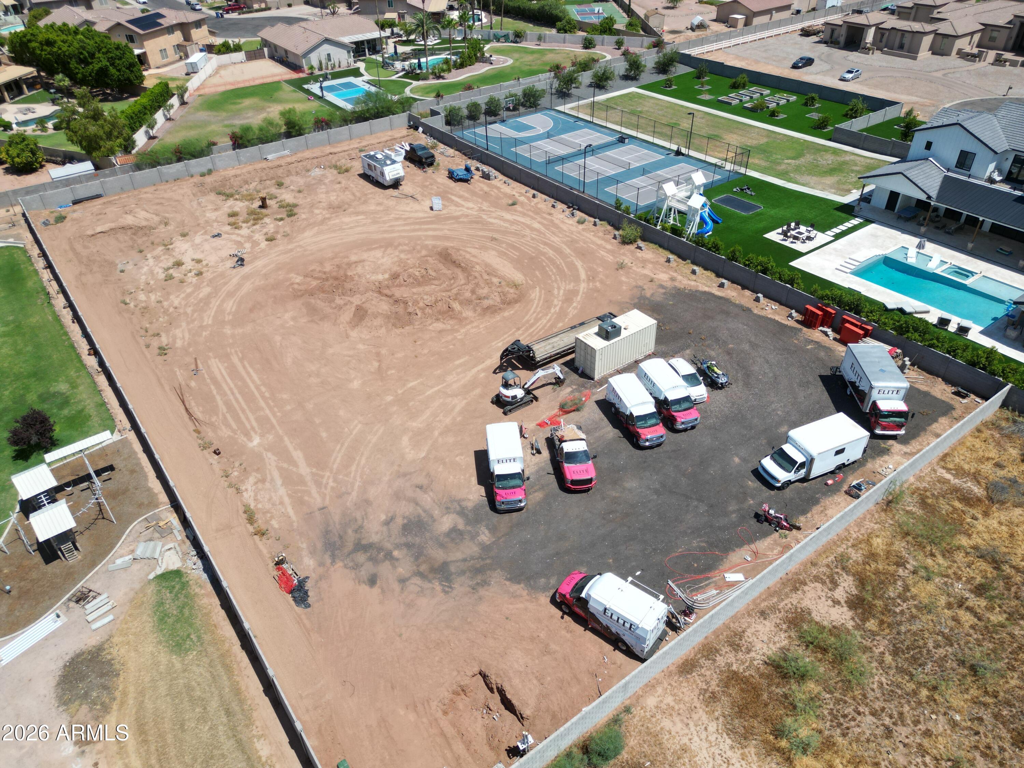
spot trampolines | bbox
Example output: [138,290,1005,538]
[715,195,761,213]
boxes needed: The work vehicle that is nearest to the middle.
[492,357,559,414]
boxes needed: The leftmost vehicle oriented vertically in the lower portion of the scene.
[486,422,531,508]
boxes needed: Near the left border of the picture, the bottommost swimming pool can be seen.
[15,109,61,127]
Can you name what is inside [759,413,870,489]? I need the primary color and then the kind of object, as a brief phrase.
white van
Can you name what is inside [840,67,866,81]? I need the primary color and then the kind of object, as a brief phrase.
gray car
